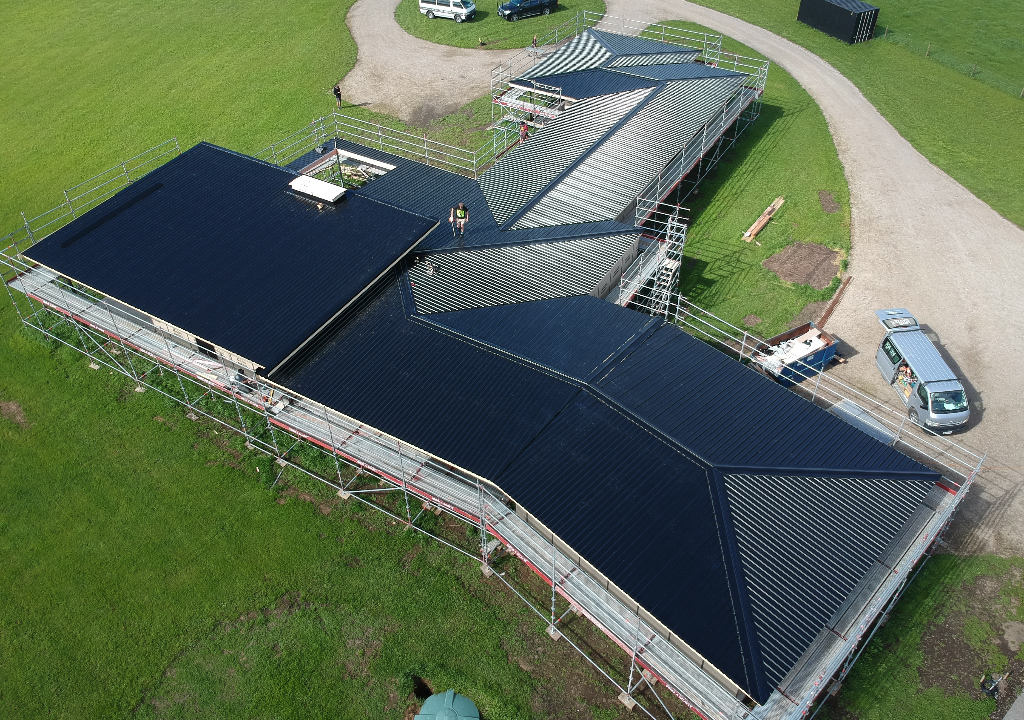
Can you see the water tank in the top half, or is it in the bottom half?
bottom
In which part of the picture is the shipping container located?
top right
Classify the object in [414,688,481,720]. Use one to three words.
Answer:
water tank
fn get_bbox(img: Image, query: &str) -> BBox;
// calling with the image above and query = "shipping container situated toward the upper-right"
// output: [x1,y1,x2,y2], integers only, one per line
[798,0,880,43]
